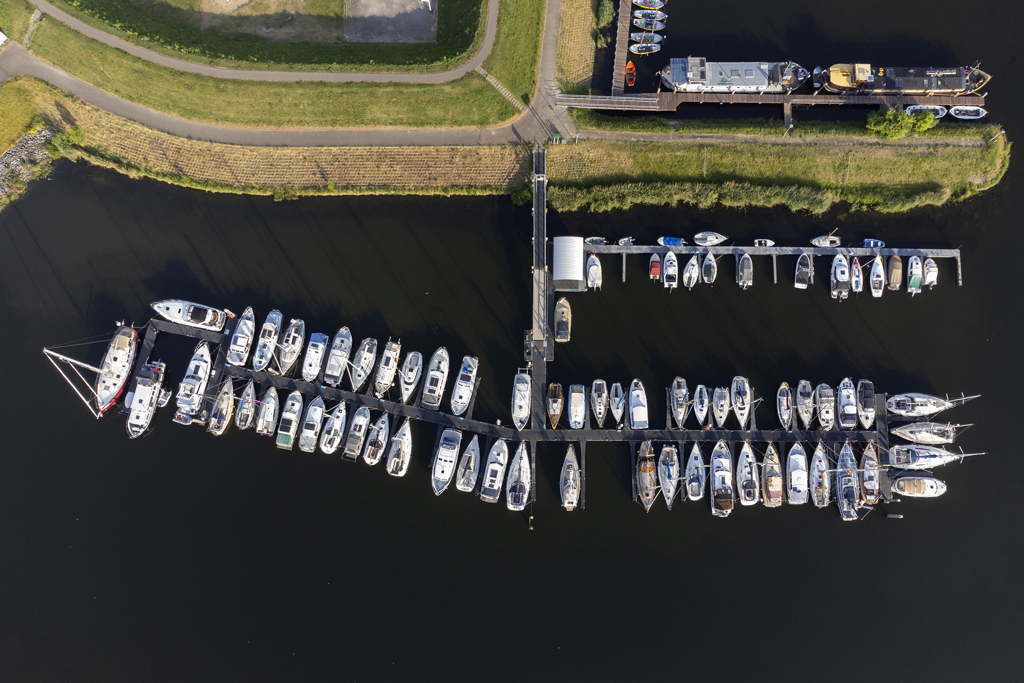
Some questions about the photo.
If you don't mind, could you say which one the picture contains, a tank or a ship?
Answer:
ship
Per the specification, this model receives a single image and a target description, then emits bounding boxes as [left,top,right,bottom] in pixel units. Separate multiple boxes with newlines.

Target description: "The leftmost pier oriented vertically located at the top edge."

[611,0,632,93]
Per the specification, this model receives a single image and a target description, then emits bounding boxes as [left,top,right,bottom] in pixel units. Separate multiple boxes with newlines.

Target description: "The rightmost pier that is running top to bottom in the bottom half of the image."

[874,394,892,499]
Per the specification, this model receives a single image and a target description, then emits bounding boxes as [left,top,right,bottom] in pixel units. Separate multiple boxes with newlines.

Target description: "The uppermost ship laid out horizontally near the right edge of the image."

[819,57,995,95]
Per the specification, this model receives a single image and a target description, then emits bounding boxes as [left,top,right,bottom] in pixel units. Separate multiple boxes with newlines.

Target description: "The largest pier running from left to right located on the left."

[224,366,522,441]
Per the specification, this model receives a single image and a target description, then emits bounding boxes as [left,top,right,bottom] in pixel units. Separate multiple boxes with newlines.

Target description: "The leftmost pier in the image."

[122,329,159,414]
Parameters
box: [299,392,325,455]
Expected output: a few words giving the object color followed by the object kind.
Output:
white boat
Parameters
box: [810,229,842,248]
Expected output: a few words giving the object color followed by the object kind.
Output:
white boat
